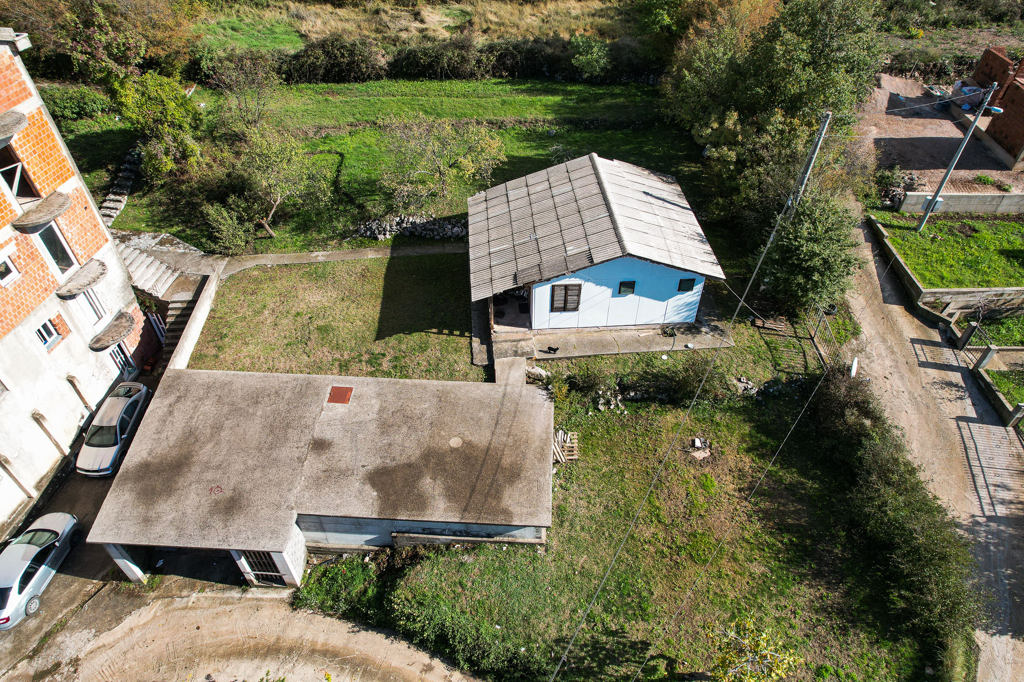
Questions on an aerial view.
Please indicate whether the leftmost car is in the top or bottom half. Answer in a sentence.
You can find the leftmost car in the bottom half.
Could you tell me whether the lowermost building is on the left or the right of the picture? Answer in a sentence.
The lowermost building sits on the left side.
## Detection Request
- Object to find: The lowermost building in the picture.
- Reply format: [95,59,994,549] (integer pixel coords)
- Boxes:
[87,369,553,595]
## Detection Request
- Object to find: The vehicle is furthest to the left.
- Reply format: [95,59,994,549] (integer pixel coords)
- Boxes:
[0,511,88,645]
